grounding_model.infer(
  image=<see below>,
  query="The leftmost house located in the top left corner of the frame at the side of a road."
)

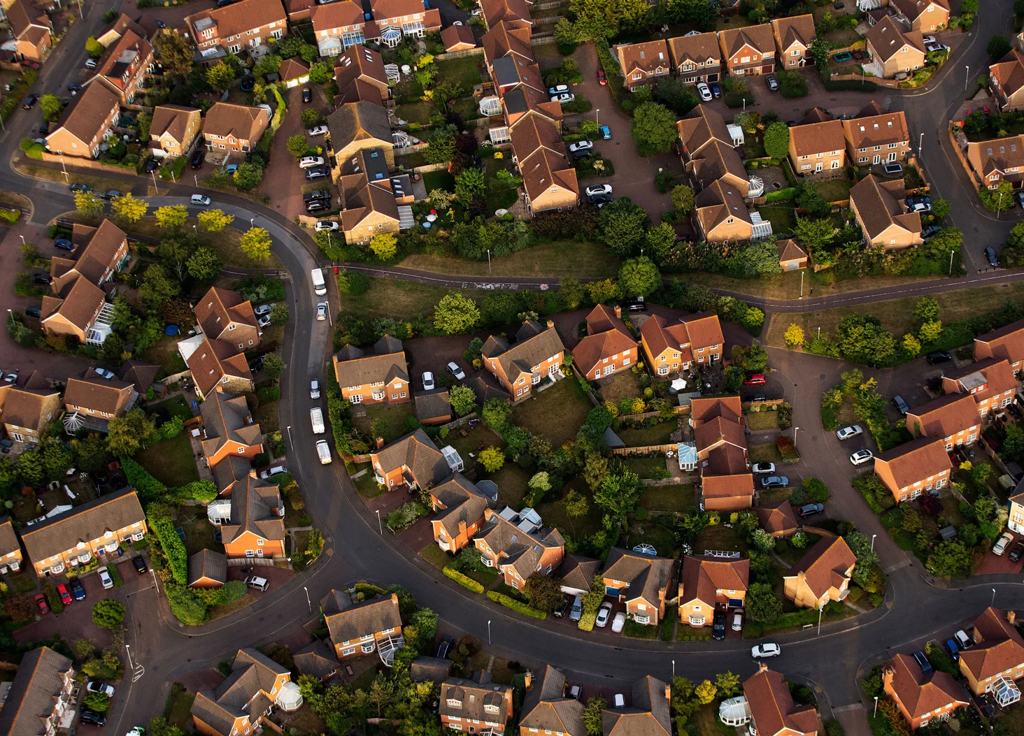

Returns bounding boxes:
[2,0,50,61]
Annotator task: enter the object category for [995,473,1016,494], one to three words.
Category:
shed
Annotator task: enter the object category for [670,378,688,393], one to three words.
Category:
umbrella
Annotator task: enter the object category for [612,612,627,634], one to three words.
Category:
car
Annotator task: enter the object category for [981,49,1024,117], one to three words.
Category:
house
